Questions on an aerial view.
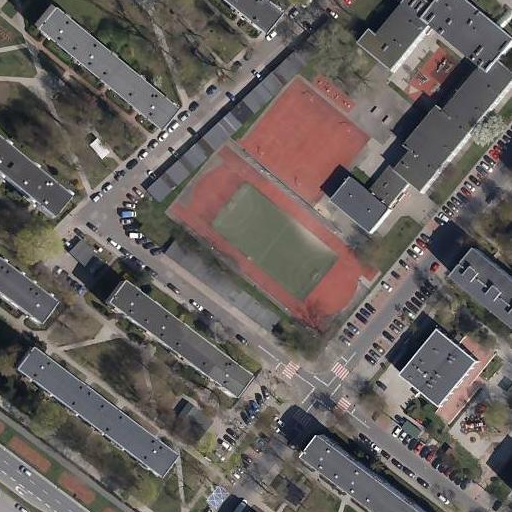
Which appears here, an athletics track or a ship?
athletics track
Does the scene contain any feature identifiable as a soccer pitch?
Yes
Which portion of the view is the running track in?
center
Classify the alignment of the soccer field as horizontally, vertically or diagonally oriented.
diagonally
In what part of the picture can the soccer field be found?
center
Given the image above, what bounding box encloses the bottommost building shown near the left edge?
[18,348,179,479]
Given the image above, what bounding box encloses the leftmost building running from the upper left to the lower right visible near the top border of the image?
[40,7,180,133]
